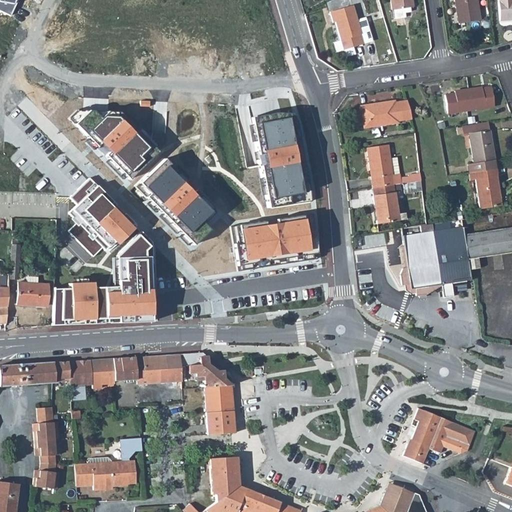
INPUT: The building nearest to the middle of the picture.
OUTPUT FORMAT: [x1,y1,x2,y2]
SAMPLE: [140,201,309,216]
[229,214,322,276]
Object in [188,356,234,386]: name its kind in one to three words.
house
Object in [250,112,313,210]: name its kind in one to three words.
building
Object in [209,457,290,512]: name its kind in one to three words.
house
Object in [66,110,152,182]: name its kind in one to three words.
building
